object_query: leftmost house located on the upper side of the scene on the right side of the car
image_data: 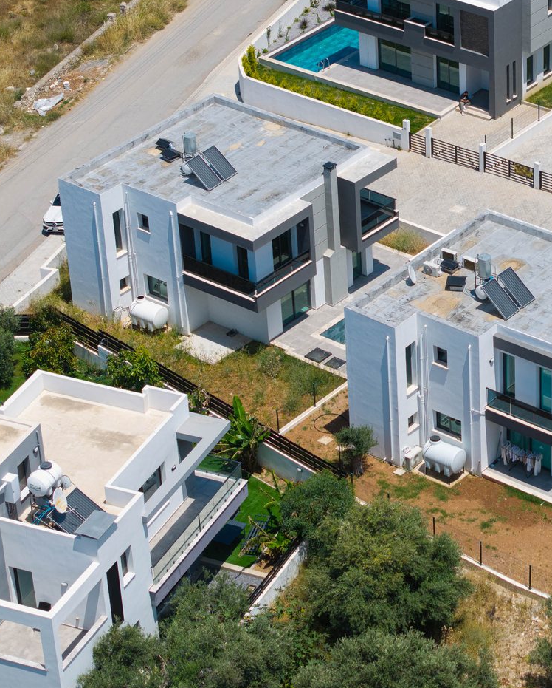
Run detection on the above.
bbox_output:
[58,94,399,344]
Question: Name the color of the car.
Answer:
white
